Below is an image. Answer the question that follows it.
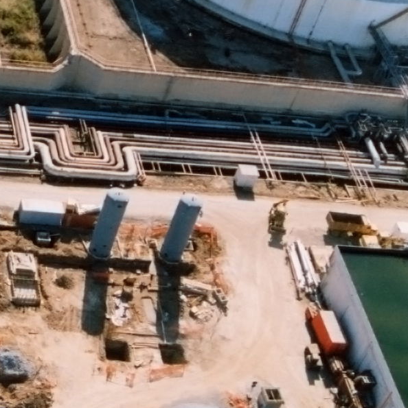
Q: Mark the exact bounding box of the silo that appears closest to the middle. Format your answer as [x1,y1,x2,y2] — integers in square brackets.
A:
[160,191,209,268]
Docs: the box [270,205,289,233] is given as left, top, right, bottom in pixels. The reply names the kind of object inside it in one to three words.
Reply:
work vehicle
